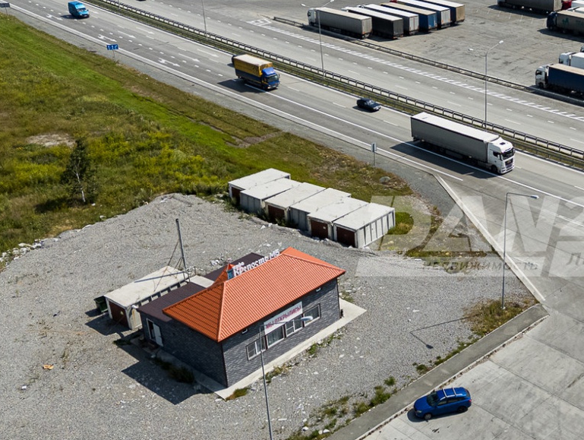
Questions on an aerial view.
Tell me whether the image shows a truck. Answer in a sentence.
Yes, there is a truck in the image.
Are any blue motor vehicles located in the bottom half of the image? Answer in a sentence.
Yes, the scene does show a blue motor vehicle in the bottom half of the image.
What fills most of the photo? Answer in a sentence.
What you mostly see from above here is paved ground.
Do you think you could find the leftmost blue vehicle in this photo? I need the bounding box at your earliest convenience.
[65,0,88,18]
